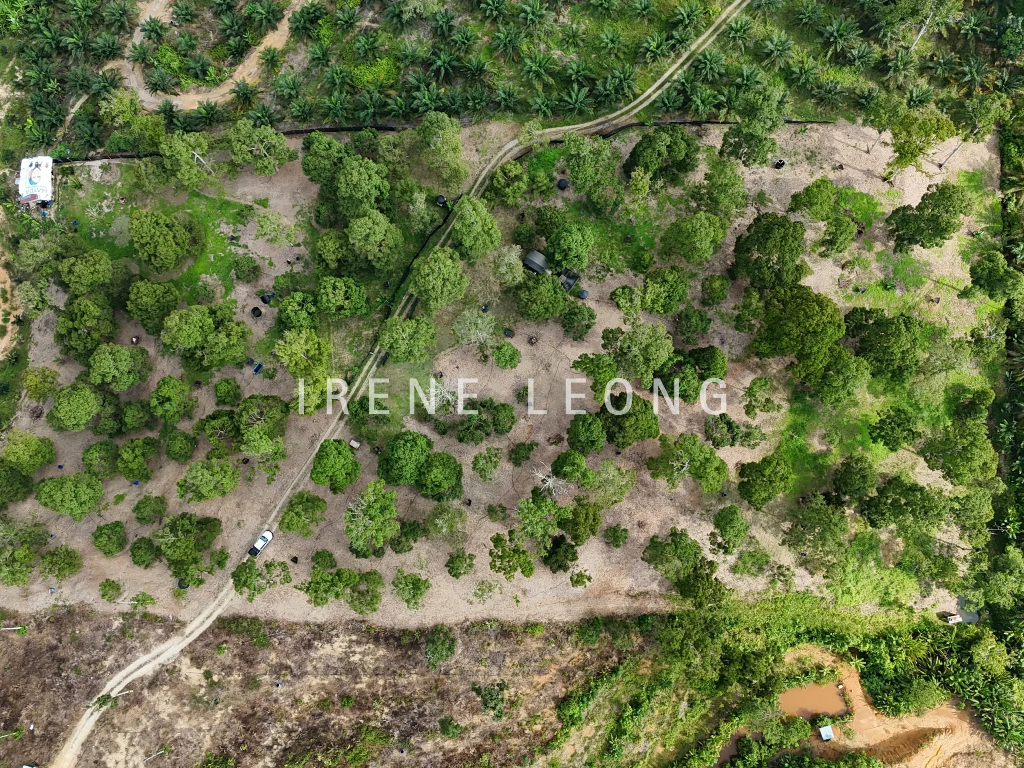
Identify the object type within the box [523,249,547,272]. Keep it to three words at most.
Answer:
shed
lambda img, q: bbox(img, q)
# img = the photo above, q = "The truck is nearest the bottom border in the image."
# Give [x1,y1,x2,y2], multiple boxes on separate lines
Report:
[249,530,275,559]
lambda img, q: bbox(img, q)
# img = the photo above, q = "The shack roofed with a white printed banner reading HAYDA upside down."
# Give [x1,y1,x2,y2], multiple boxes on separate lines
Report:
[15,156,59,204]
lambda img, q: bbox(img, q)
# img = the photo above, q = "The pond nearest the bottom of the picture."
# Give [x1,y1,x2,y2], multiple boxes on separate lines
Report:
[780,683,846,719]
